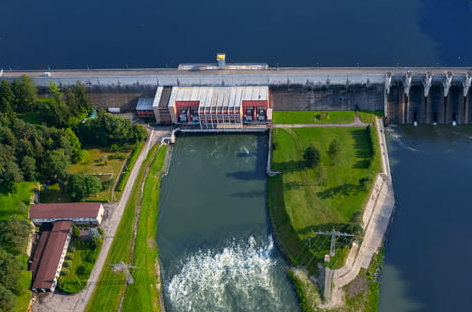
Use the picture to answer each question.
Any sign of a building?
Yes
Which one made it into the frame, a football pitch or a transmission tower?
transmission tower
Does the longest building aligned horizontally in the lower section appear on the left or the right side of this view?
left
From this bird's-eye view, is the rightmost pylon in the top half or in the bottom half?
bottom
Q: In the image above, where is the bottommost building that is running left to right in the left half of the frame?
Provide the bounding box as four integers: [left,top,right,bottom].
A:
[27,203,105,224]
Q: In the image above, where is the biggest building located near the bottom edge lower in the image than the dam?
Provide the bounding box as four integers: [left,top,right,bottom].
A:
[34,218,73,297]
